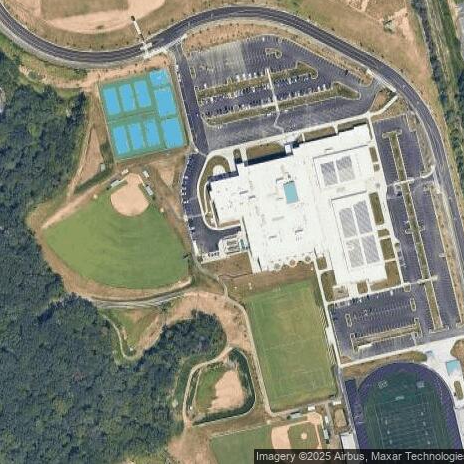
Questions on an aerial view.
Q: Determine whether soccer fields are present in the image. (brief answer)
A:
Yes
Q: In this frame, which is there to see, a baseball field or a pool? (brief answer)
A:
baseball field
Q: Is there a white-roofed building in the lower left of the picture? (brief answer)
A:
No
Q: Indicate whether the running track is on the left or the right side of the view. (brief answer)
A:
right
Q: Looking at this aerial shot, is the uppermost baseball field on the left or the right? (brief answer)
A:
left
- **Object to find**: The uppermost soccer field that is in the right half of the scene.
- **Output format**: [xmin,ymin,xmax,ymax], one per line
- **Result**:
[249,285,337,410]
